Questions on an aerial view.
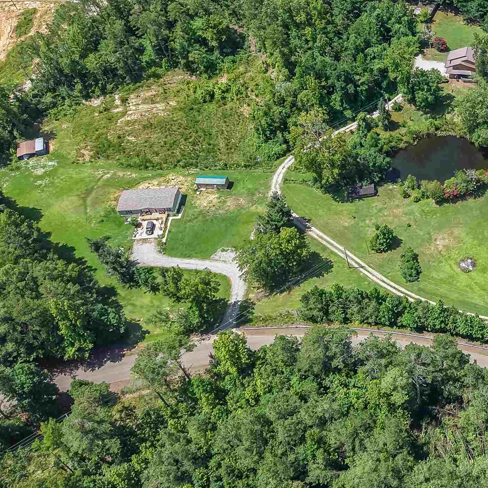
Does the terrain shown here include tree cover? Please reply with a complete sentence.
Yes, tree cover can be seen from above here.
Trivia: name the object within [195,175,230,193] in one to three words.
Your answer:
shed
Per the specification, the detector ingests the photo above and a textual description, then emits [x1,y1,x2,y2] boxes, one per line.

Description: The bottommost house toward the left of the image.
[116,186,182,234]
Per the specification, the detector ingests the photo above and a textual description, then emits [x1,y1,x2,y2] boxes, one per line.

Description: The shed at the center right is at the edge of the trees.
[349,184,376,200]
